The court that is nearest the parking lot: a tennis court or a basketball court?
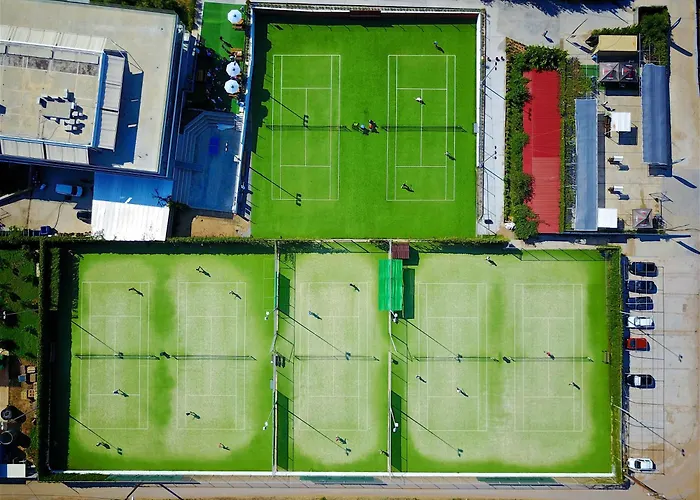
tennis court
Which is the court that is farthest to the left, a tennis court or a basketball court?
tennis court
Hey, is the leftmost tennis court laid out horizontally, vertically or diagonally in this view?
vertically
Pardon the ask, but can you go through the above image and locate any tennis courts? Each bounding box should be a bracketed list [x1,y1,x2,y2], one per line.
[511,281,585,434]
[270,52,343,202]
[79,280,152,432]
[416,280,489,434]
[297,280,371,433]
[386,52,458,203]
[174,280,248,432]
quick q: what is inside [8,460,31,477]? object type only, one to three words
shed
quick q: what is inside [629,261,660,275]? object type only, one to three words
vehicle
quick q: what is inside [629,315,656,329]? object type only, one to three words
vehicle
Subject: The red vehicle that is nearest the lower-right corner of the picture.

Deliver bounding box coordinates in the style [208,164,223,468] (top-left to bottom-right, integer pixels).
[627,338,651,351]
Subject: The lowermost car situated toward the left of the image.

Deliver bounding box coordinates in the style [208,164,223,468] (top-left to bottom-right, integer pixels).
[72,210,95,224]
